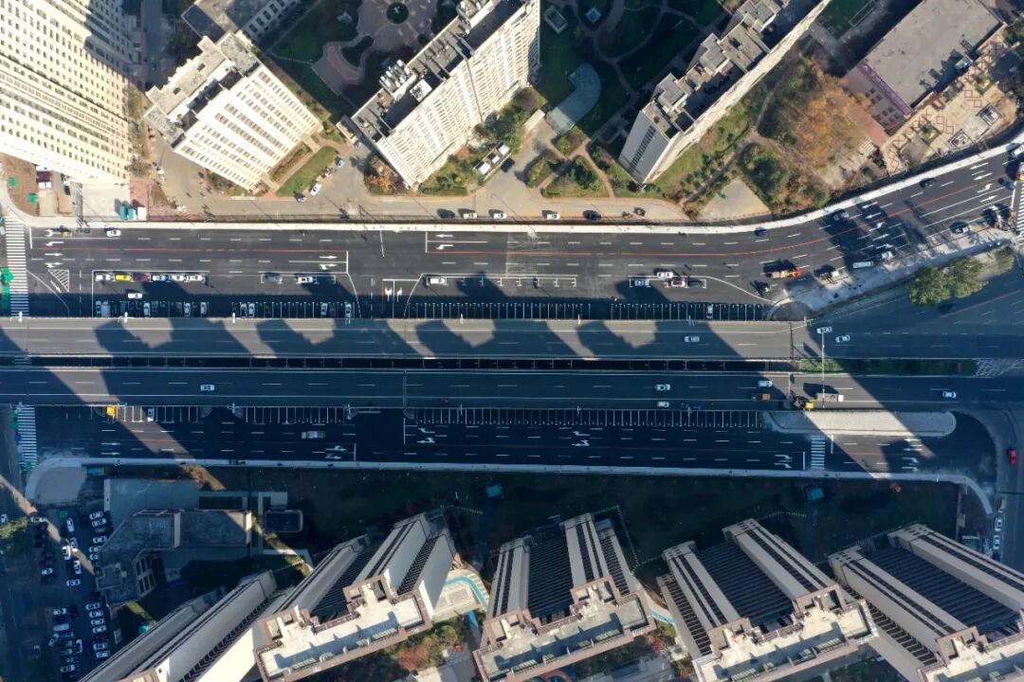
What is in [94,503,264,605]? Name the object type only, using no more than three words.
building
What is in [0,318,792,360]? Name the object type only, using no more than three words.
overpass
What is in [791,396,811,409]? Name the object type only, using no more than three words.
vehicle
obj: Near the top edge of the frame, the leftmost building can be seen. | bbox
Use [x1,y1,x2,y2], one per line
[0,0,139,178]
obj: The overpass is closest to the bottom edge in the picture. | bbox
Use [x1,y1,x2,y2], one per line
[0,367,792,410]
